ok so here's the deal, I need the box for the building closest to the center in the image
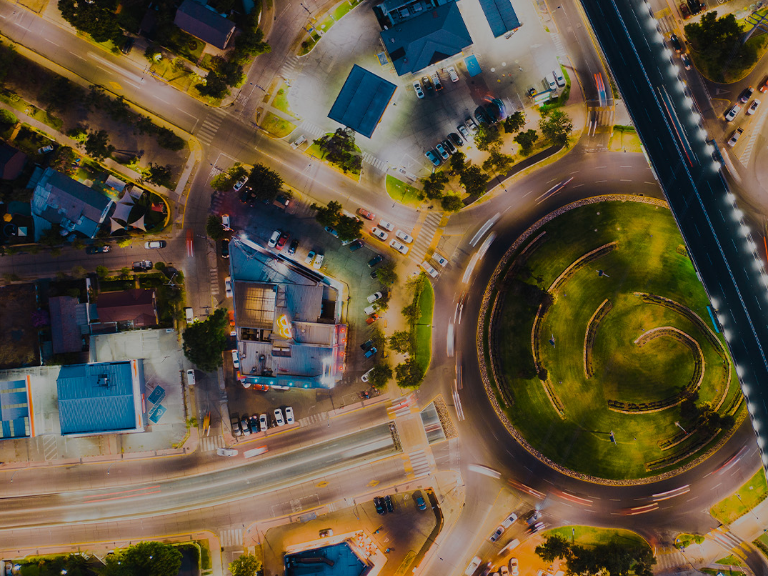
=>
[229,236,348,388]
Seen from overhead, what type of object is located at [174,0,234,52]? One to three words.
house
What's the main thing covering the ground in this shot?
paved ground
